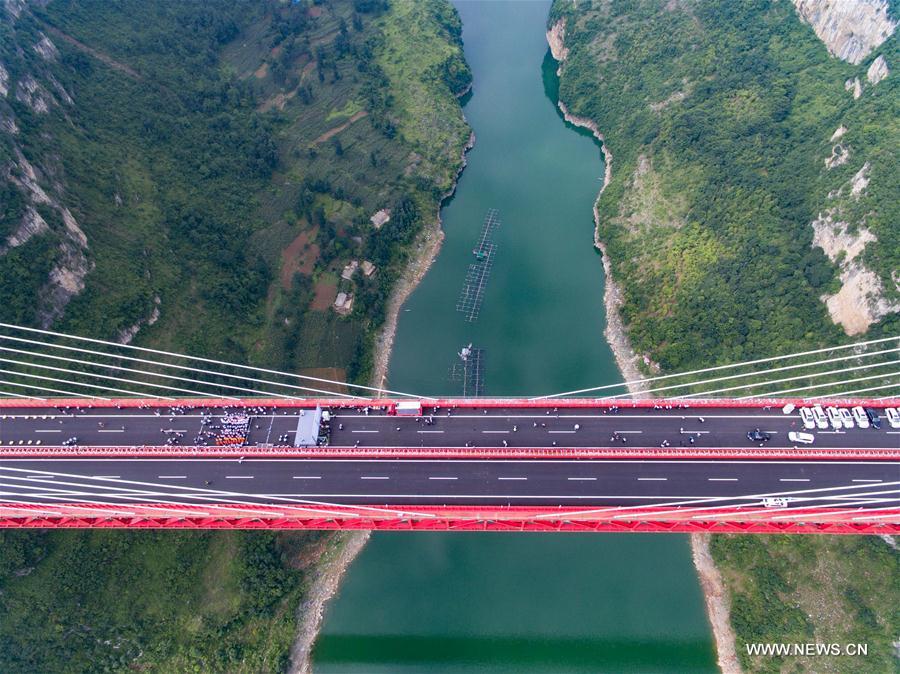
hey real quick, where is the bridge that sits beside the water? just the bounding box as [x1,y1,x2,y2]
[0,323,900,533]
